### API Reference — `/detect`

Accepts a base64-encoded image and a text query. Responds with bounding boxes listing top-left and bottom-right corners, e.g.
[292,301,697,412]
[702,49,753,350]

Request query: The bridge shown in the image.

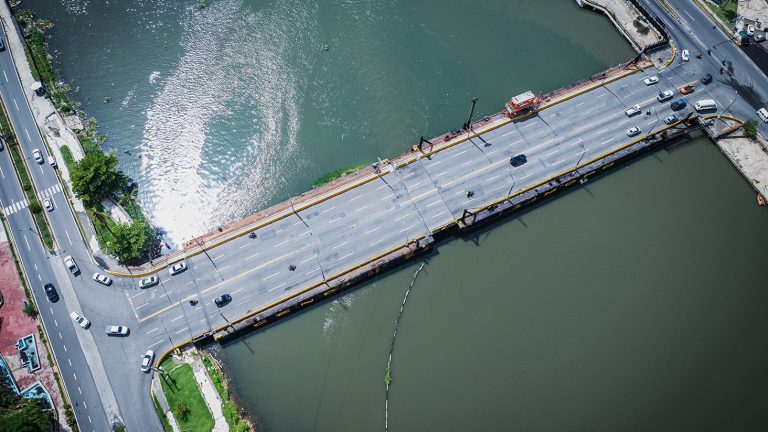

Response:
[103,39,744,369]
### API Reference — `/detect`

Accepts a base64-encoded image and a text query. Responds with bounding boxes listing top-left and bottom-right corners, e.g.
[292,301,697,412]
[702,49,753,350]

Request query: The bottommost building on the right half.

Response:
[502,92,537,114]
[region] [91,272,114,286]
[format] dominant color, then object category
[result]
white car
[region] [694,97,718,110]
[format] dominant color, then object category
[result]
white vehicle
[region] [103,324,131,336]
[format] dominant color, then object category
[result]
white vehicle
